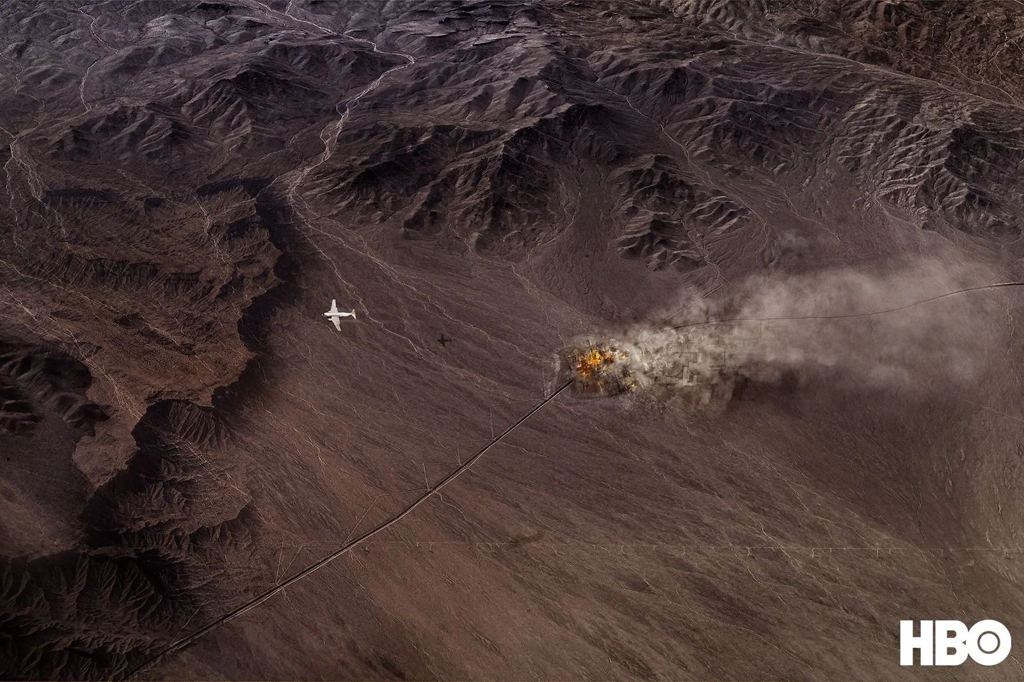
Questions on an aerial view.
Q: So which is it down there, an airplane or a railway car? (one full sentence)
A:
Looking from above, you can make out an airplane.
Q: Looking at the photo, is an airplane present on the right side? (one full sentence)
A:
No, looking on the right side, there is no airplane.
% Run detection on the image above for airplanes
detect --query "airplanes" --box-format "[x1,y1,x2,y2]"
[322,298,356,331]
